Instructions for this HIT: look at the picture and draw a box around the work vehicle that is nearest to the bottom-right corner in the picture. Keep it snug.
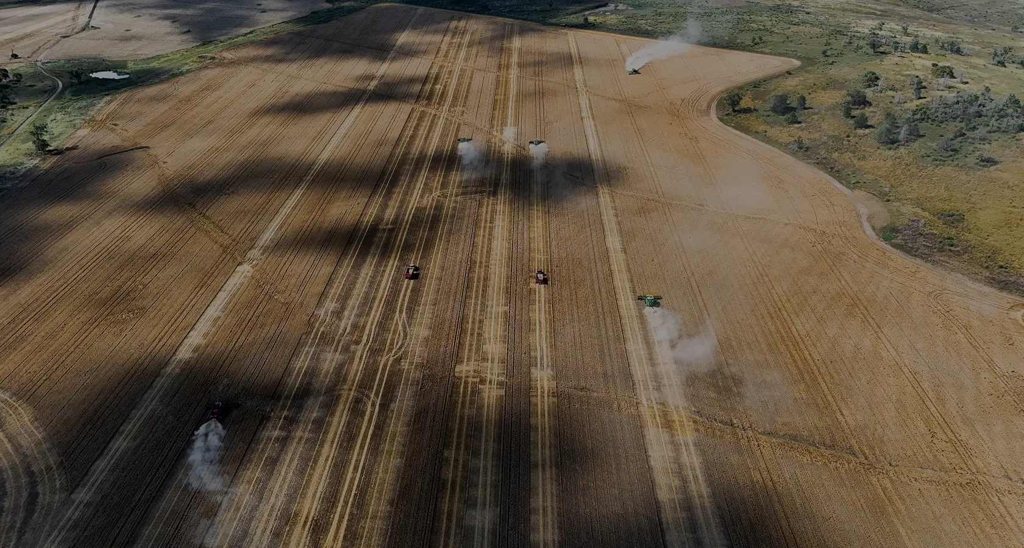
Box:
[636,295,662,311]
